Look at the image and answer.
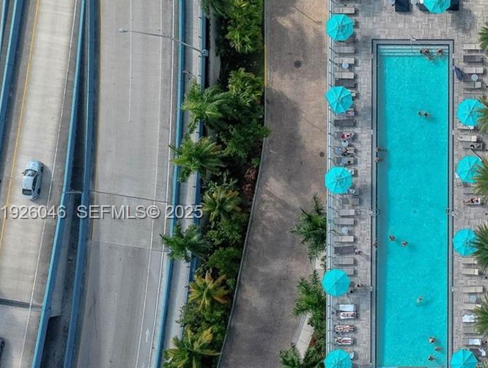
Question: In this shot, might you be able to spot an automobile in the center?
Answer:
No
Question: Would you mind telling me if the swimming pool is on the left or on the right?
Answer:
right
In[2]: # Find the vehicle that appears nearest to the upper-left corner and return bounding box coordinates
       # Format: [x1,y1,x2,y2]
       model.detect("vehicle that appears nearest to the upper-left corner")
[21,159,46,201]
